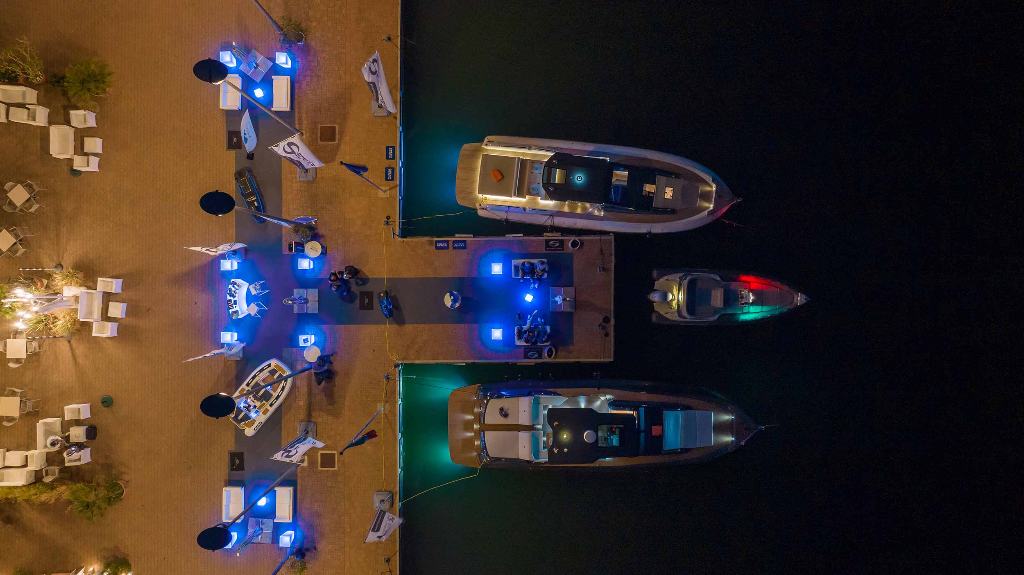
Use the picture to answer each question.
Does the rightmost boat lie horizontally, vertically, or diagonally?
horizontally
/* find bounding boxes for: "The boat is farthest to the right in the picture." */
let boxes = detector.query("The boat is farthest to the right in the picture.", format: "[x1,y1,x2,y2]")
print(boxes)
[647,268,811,326]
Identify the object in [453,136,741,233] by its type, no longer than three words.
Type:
boat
